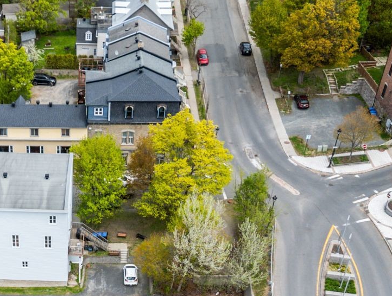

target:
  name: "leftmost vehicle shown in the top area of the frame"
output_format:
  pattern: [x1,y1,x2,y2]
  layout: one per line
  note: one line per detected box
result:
[32,73,57,86]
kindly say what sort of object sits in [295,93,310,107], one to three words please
car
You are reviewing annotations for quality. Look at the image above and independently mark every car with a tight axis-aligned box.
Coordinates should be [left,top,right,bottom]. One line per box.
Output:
[32,73,57,86]
[295,93,310,107]
[121,261,139,287]
[240,40,253,53]
[197,49,210,62]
